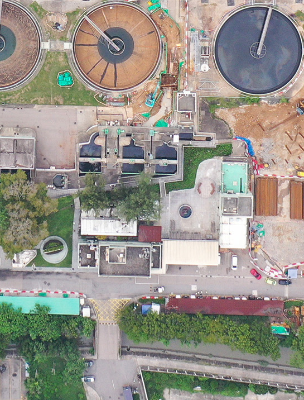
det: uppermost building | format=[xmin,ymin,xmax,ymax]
[177,90,196,113]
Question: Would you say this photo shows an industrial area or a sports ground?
industrial area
